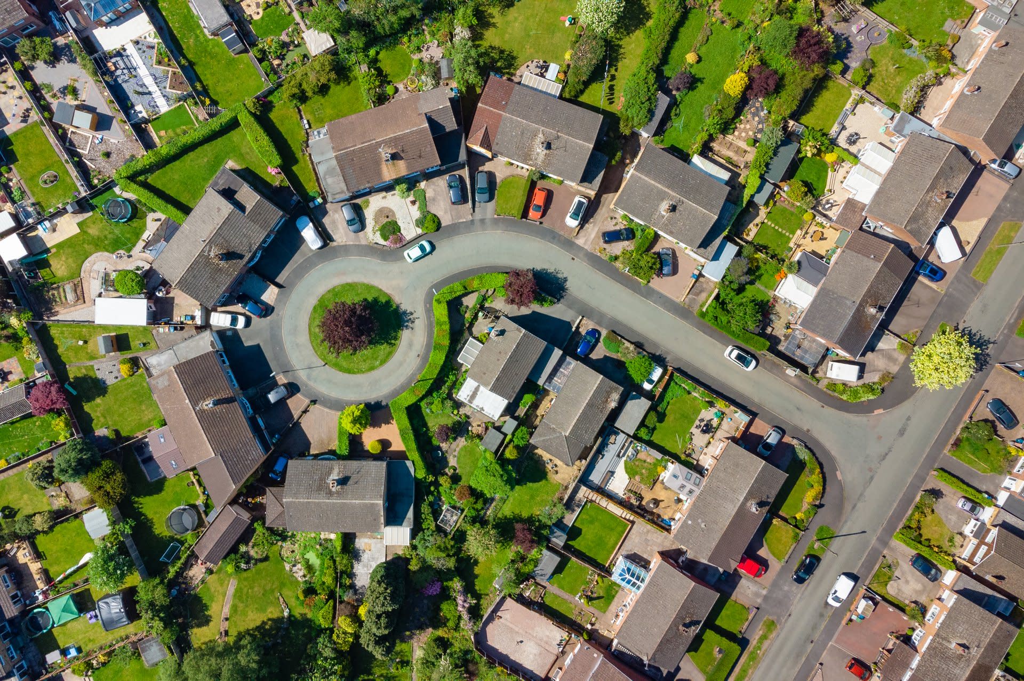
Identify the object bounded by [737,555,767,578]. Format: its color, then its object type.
red car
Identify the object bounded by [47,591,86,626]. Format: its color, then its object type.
green gazebo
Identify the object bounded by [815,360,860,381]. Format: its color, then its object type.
white camper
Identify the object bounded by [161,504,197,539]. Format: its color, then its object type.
gray trampoline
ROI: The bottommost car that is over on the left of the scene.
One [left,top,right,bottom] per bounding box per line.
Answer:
[269,453,289,482]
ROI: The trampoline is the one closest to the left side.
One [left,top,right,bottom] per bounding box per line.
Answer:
[17,608,51,641]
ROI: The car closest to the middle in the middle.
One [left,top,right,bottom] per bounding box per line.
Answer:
[576,327,599,358]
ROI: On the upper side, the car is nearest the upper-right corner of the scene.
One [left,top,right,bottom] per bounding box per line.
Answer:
[986,159,1022,179]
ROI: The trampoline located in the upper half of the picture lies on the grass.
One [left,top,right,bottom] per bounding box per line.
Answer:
[96,192,133,225]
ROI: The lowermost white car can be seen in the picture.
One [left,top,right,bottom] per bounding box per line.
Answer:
[828,571,856,607]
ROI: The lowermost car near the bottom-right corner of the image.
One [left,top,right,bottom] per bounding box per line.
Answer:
[845,655,871,681]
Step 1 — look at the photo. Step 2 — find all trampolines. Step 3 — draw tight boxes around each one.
[161,504,197,539]
[96,192,133,225]
[17,608,51,641]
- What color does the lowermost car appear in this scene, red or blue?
red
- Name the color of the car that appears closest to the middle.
blue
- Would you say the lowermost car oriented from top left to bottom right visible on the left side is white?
No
